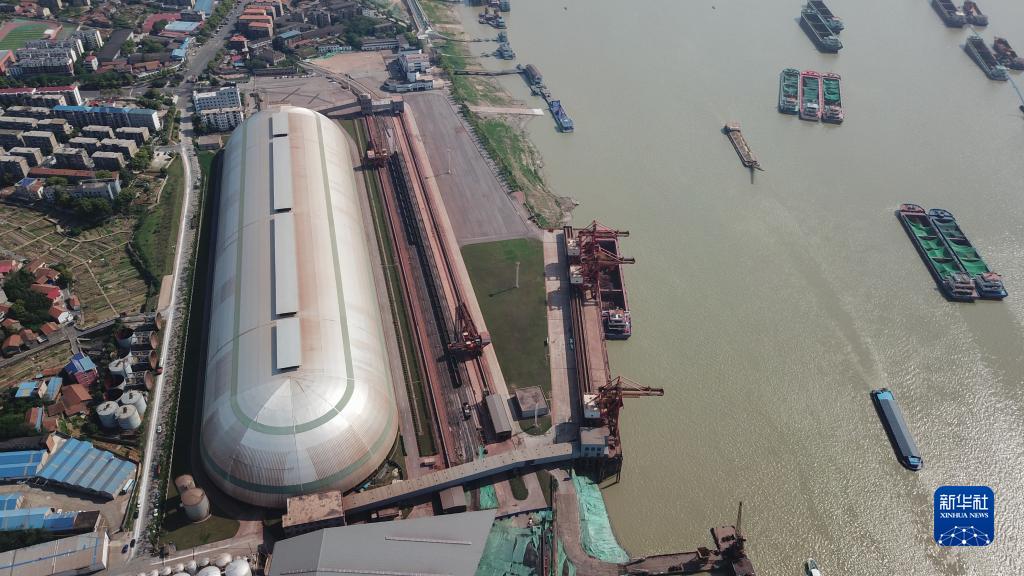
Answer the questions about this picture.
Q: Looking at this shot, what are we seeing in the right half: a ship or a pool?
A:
ship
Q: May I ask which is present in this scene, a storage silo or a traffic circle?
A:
storage silo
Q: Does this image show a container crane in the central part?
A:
Yes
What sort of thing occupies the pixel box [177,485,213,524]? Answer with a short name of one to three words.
silo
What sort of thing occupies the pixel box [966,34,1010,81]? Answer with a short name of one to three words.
ship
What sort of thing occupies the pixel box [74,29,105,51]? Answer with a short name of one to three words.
building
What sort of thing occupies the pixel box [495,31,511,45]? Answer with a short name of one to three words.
boat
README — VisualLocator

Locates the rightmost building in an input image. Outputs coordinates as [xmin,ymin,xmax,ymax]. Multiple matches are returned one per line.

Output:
[582,425,608,459]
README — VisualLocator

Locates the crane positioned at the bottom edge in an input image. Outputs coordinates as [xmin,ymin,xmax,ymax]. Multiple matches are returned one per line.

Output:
[700,494,768,576]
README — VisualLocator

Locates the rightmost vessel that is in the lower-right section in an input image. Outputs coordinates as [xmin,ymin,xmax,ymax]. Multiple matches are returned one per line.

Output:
[870,388,921,474]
